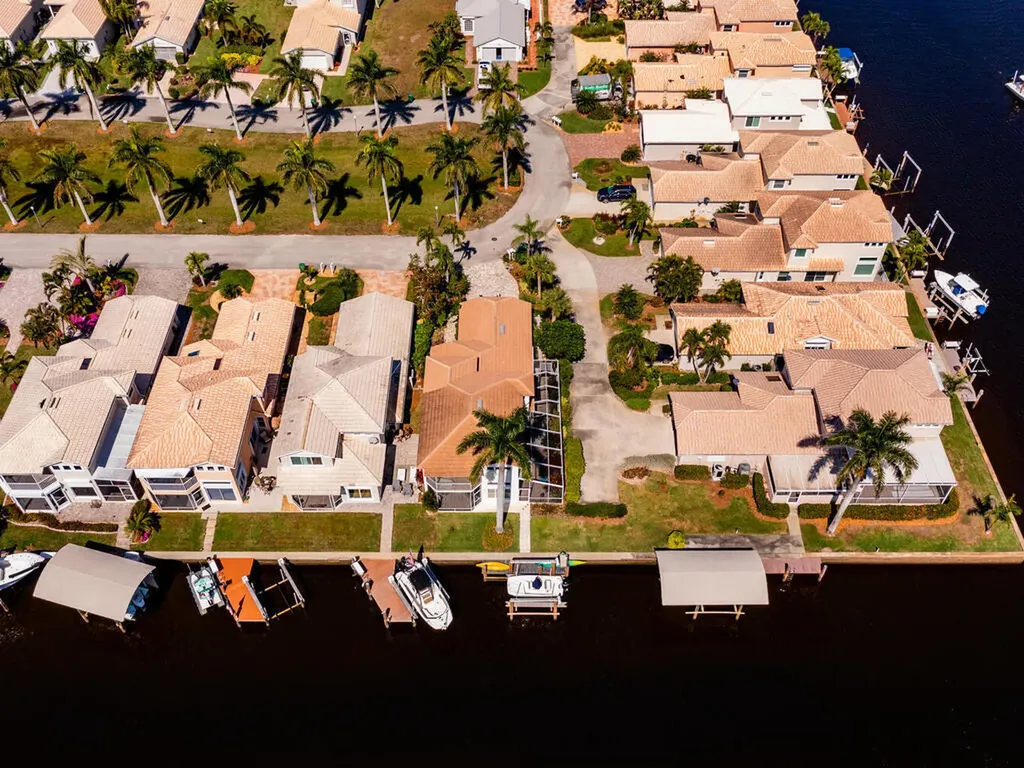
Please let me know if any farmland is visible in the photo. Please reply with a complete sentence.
No, farmland can't be seen anywhere here.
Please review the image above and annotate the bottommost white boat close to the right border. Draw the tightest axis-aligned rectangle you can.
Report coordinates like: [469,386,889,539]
[934,265,993,324]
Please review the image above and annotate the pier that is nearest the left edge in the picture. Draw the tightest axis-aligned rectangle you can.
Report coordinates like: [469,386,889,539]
[218,559,270,632]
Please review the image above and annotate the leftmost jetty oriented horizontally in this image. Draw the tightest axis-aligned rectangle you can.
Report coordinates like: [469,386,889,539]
[480,563,581,590]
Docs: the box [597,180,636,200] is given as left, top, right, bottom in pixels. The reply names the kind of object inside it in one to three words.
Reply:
car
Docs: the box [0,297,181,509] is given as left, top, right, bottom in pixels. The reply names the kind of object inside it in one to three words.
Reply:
house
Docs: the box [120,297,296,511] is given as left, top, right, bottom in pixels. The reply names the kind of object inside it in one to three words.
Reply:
house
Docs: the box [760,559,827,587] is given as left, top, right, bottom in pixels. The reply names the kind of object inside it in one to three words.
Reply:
pier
